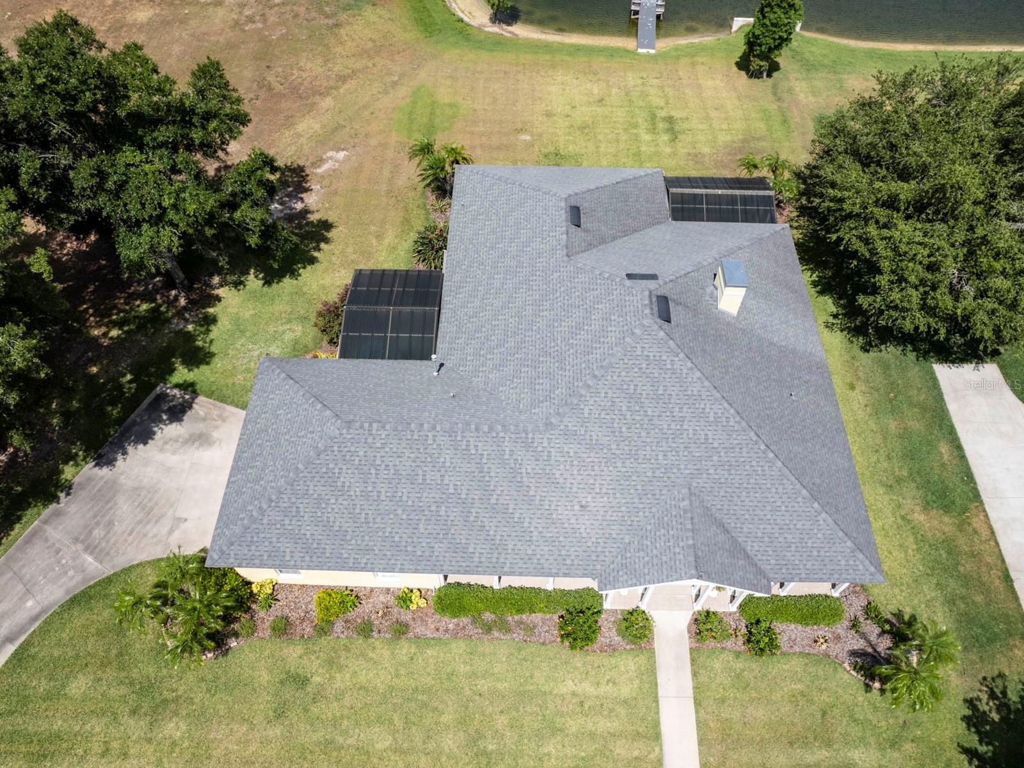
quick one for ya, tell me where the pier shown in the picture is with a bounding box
[621,0,660,56]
